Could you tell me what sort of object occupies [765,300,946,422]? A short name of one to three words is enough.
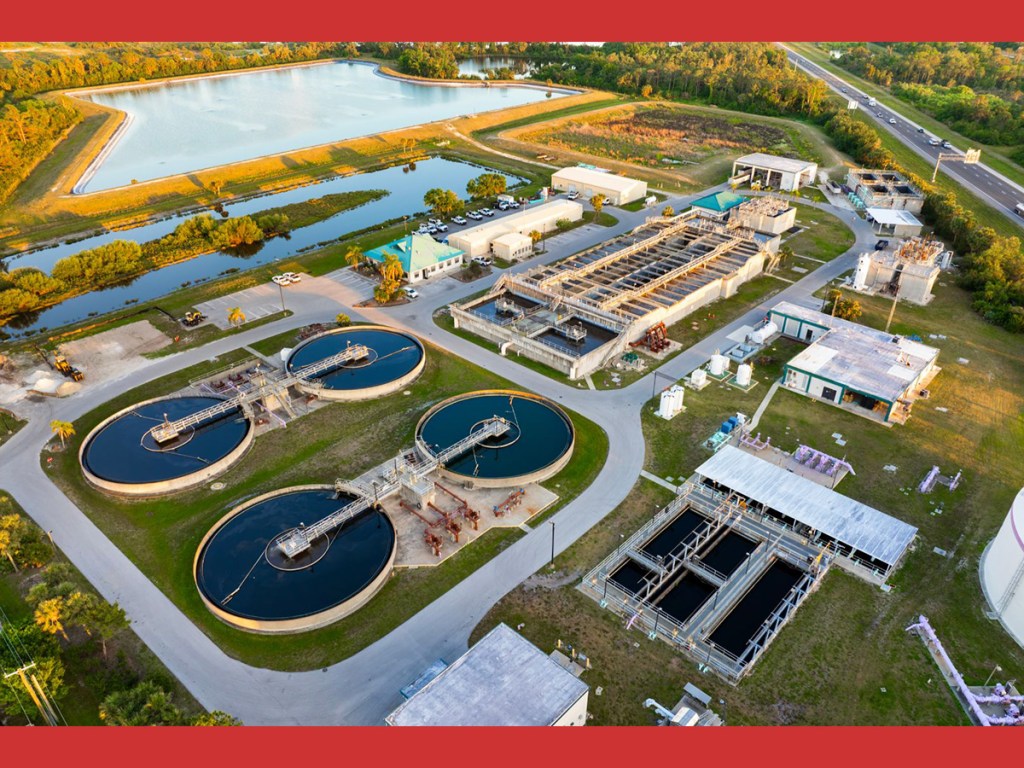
building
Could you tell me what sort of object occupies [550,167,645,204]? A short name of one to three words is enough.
building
